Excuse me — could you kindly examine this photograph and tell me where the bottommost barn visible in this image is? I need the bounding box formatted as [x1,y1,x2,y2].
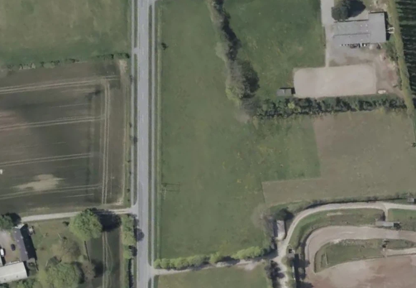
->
[0,262,27,283]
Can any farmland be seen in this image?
Yes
